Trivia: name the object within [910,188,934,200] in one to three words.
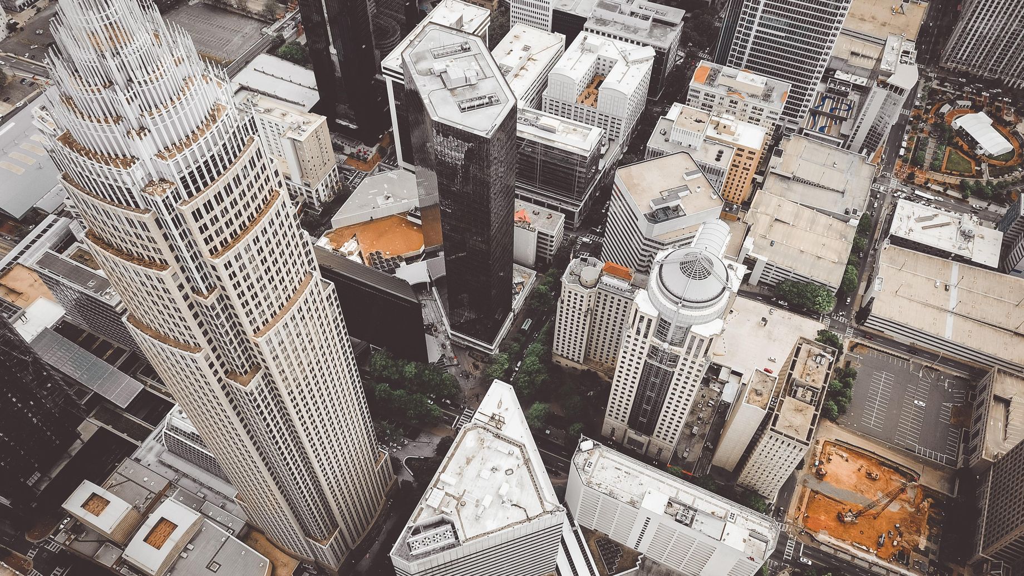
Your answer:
vehicle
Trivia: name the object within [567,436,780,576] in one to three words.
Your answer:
building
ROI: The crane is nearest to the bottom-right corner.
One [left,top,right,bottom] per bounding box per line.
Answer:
[835,479,916,523]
